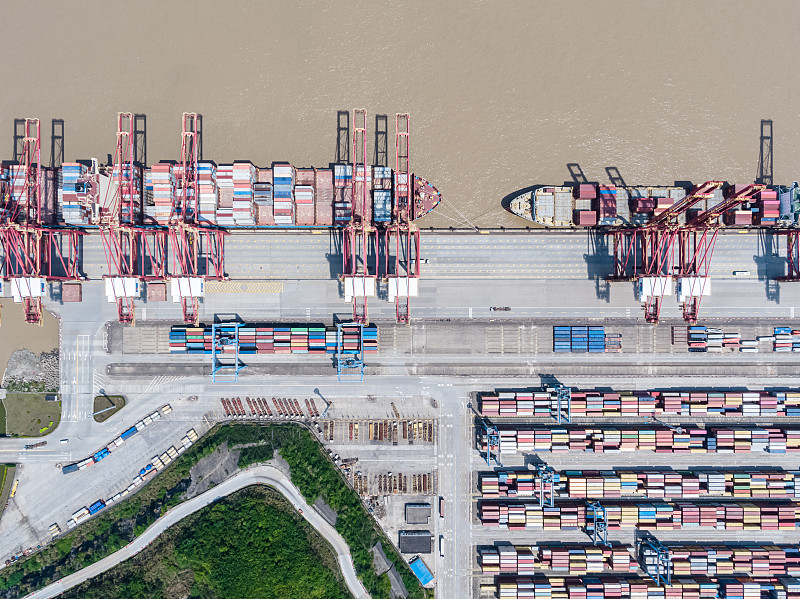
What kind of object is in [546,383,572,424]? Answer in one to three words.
container crane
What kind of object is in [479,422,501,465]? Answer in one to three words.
container crane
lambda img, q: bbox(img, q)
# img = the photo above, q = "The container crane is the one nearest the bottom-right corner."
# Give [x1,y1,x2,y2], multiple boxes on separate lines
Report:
[640,535,672,587]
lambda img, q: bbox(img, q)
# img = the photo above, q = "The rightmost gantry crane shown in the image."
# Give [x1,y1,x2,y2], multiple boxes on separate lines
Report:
[767,226,800,281]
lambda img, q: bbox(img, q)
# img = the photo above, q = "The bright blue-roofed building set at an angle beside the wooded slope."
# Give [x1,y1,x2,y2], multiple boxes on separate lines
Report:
[409,555,434,587]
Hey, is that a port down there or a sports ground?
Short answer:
port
